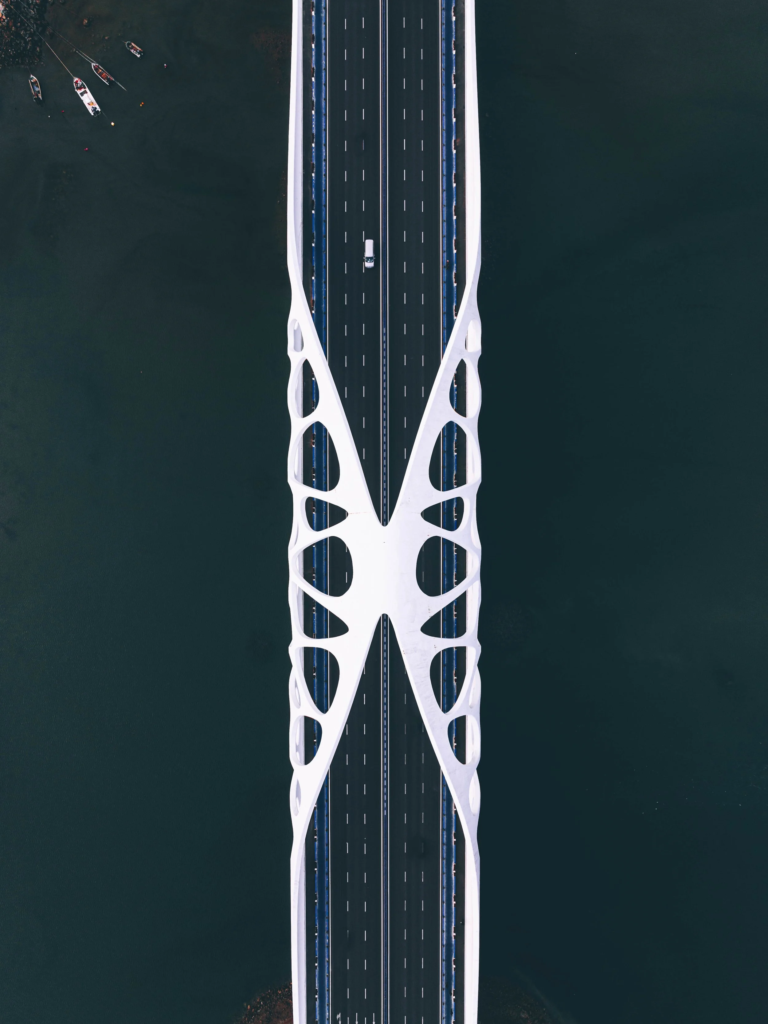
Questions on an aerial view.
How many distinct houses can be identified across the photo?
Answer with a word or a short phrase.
0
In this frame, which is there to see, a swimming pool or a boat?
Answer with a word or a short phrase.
boat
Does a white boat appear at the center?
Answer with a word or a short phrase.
No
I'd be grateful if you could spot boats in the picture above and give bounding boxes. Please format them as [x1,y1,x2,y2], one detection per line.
[92,63,114,86]
[30,74,43,103]
[125,40,144,61]
[72,76,102,120]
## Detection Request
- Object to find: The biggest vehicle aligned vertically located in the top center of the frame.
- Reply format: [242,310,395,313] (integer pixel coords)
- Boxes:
[363,239,376,268]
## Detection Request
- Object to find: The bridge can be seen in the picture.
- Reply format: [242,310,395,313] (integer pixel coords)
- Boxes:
[287,0,482,1024]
